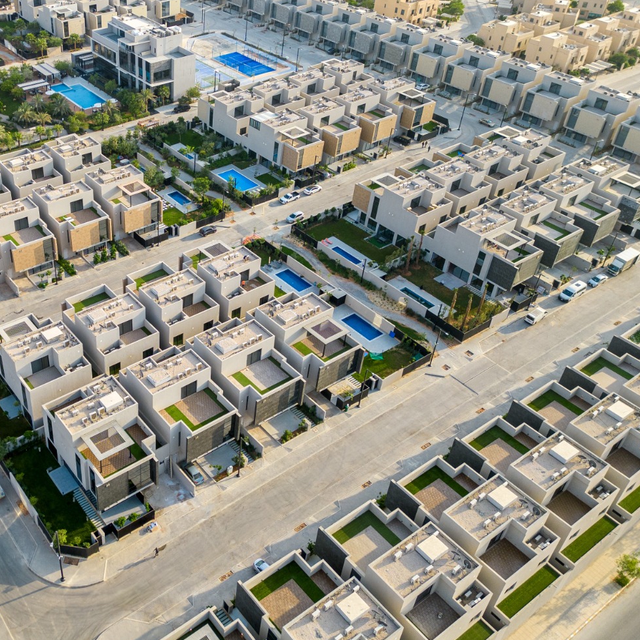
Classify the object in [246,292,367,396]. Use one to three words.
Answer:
house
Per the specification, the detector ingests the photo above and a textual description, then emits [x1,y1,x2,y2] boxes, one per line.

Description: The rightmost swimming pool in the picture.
[392,281,439,310]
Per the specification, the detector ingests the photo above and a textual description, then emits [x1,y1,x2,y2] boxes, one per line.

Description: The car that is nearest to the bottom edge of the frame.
[243,555,271,573]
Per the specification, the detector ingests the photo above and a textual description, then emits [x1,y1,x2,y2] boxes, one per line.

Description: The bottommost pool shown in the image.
[340,311,386,342]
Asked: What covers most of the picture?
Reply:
buildings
